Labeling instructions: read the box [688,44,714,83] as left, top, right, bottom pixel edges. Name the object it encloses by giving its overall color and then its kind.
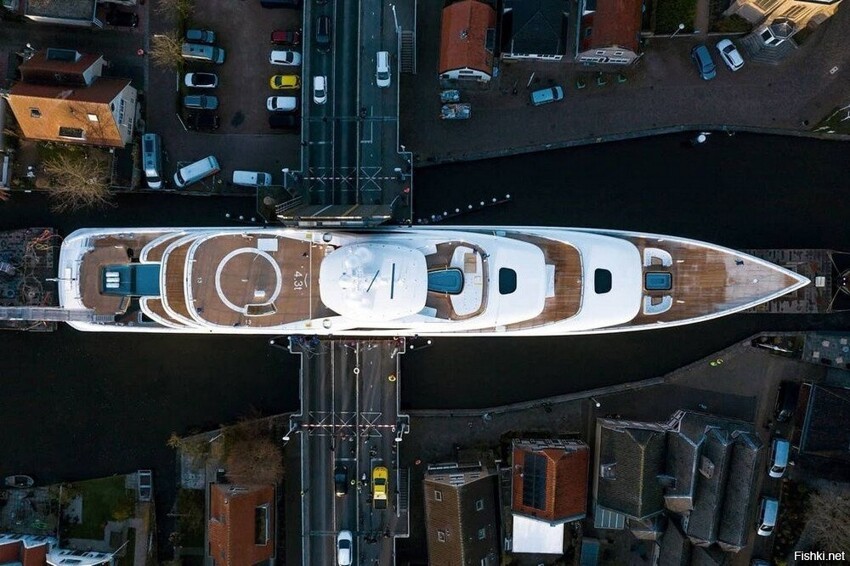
blue car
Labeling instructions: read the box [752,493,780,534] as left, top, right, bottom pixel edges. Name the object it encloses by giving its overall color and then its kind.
blue van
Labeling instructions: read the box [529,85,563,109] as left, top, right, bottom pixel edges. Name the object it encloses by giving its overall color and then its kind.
blue vehicle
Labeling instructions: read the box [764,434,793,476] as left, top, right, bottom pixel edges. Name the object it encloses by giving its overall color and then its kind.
blue van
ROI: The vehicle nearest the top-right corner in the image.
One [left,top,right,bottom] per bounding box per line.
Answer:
[714,40,745,75]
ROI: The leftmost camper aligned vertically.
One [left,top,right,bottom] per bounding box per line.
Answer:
[141,132,168,191]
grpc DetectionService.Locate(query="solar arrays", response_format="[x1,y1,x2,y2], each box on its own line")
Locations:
[520,457,546,520]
